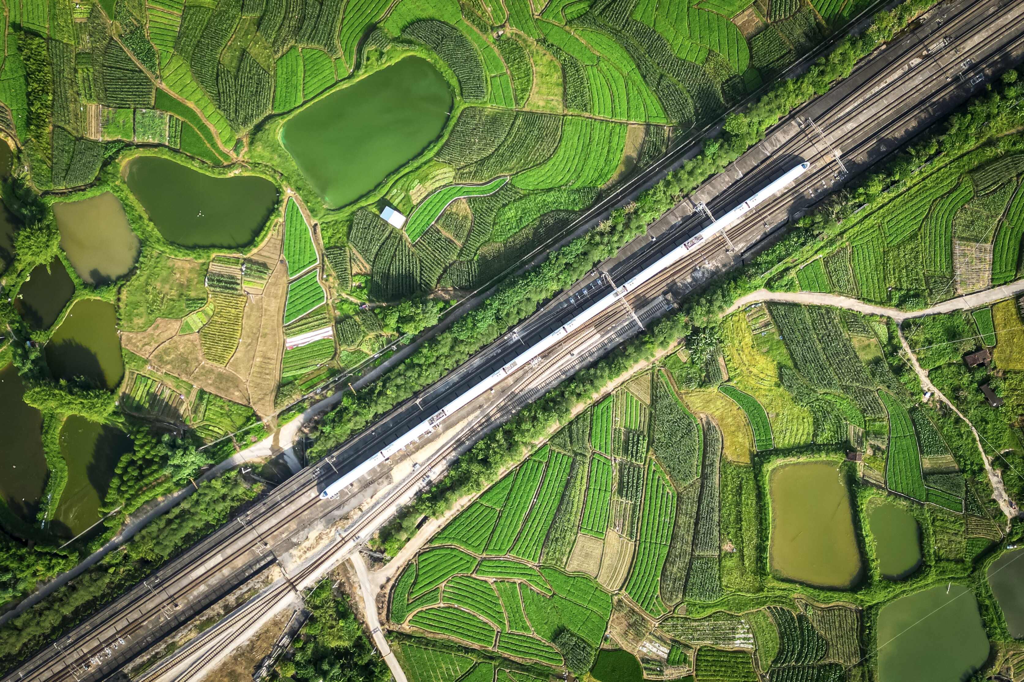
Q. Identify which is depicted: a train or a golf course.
train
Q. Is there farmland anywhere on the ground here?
Yes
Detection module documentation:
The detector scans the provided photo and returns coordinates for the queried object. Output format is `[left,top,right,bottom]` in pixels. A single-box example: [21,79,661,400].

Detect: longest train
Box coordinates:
[321,162,809,498]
